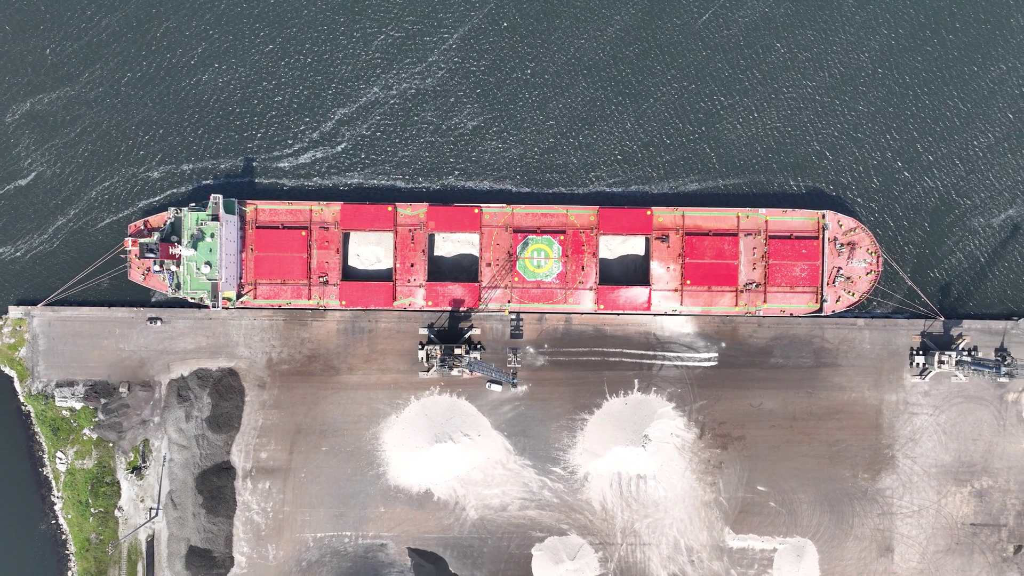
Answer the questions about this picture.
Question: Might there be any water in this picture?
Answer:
Yes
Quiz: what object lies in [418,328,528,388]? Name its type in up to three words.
crane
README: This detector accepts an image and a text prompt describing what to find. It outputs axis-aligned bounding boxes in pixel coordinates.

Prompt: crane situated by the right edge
[910,335,1024,382]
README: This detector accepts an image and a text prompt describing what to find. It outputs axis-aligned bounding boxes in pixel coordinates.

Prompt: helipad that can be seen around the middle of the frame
[516,235,563,283]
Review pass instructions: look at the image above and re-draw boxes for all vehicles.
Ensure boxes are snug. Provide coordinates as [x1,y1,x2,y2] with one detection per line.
[146,318,163,326]
[485,381,503,390]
